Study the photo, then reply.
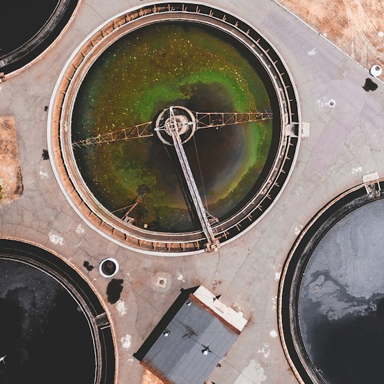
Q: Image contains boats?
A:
No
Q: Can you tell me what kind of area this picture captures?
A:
industrial area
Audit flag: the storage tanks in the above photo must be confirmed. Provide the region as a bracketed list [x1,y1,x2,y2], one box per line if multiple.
[48,1,302,254]
[0,0,85,83]
[0,236,122,384]
[279,177,384,384]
